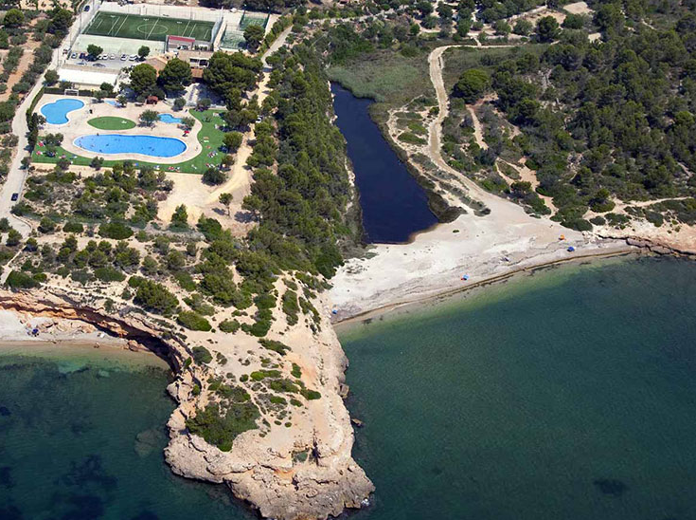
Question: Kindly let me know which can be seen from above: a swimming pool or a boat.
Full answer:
The one in the frame is a swimming pool.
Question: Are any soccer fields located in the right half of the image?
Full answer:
No, in the right half of the image there is no soccer field.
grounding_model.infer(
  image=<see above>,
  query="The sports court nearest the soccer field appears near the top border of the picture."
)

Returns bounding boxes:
[220,24,248,49]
